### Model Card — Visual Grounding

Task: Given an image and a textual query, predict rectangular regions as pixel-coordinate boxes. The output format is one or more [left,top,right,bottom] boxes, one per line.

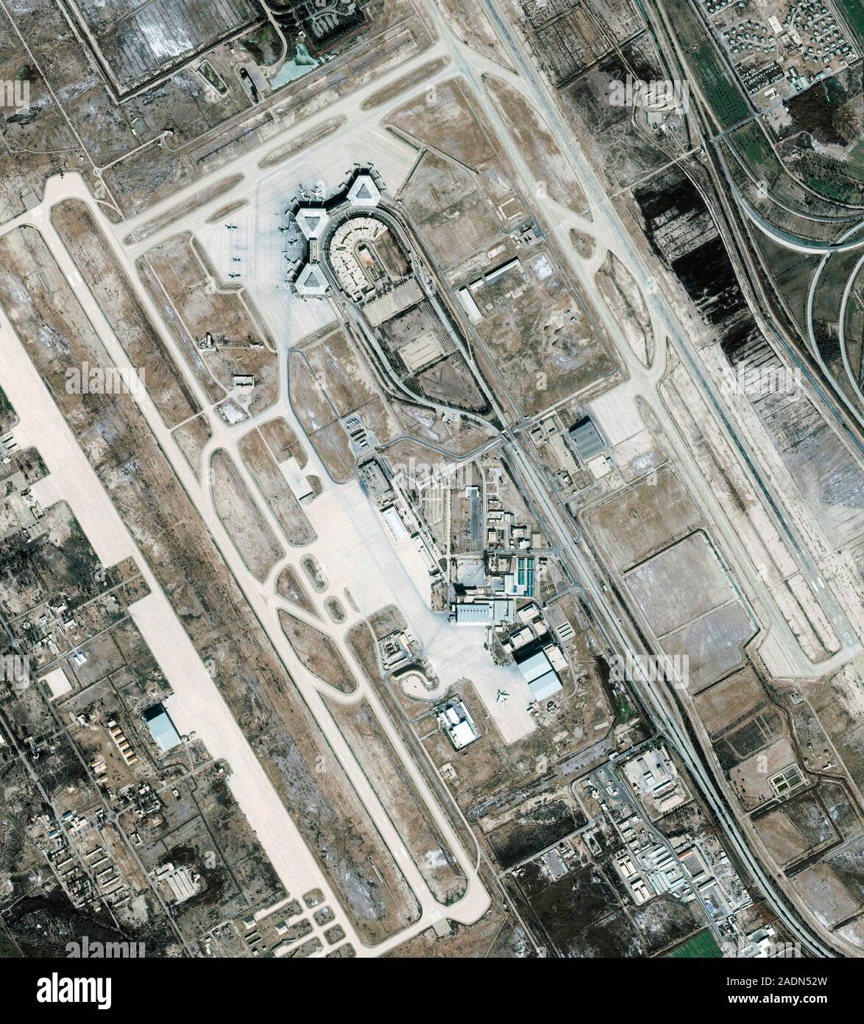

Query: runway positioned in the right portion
[480,0,864,654]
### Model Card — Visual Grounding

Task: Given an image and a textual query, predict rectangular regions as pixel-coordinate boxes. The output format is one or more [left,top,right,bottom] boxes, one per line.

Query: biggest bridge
[486,393,530,463]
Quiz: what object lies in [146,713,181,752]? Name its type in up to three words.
hangar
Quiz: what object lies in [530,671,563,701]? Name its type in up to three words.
hangar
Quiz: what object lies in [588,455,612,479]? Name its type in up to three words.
building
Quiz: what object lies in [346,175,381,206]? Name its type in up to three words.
building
